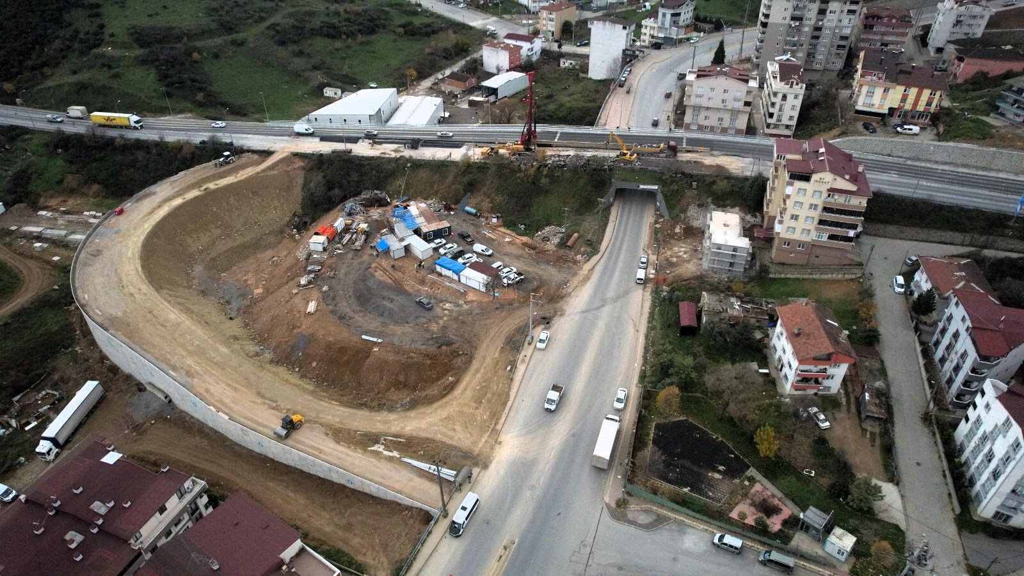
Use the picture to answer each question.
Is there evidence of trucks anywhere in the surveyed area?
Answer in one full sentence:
Yes, this view includes a truck.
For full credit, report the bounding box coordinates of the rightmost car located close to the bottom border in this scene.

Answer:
[758,549,795,573]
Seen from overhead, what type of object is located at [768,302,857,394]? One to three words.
house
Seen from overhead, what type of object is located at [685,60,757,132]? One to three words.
building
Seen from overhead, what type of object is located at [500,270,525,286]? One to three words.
vehicle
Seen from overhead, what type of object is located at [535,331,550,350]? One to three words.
car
